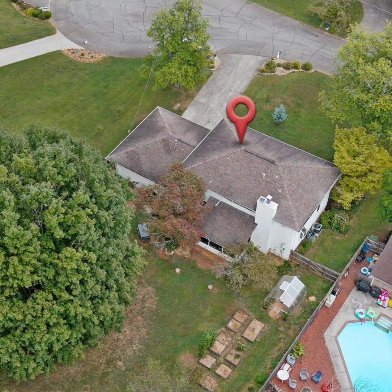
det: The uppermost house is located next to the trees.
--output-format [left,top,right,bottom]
[104,106,344,263]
